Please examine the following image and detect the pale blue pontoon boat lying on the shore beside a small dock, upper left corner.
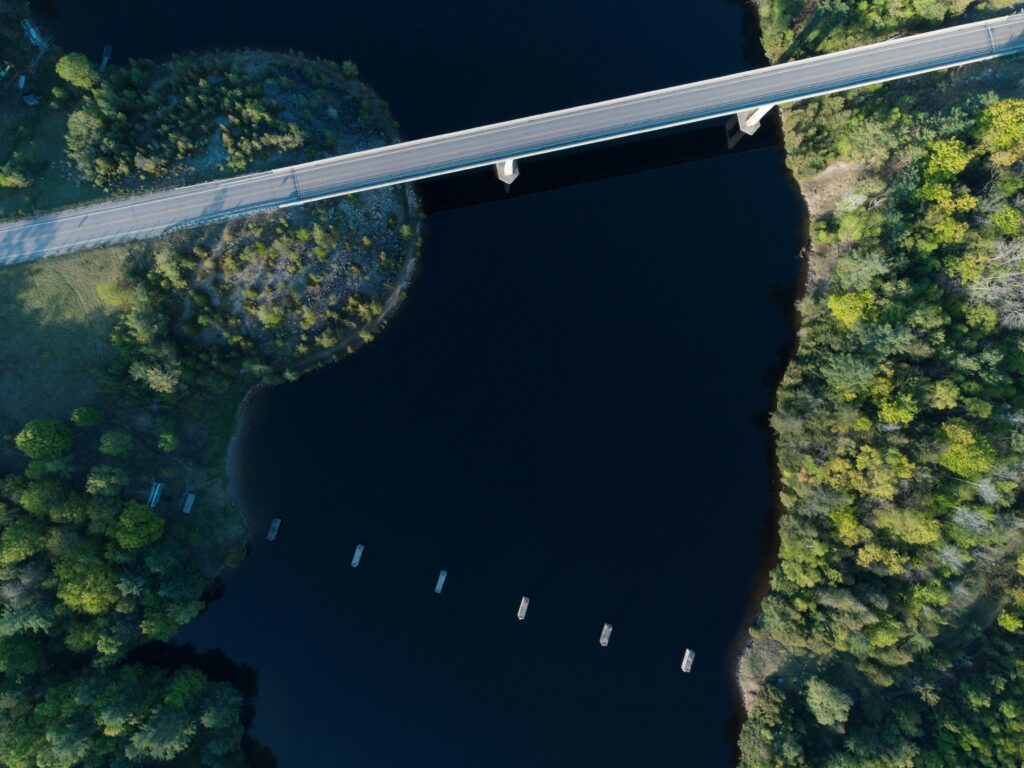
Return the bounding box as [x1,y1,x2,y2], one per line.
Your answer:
[24,21,45,45]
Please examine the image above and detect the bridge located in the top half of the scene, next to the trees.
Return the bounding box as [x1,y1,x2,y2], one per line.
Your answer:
[269,16,1005,205]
